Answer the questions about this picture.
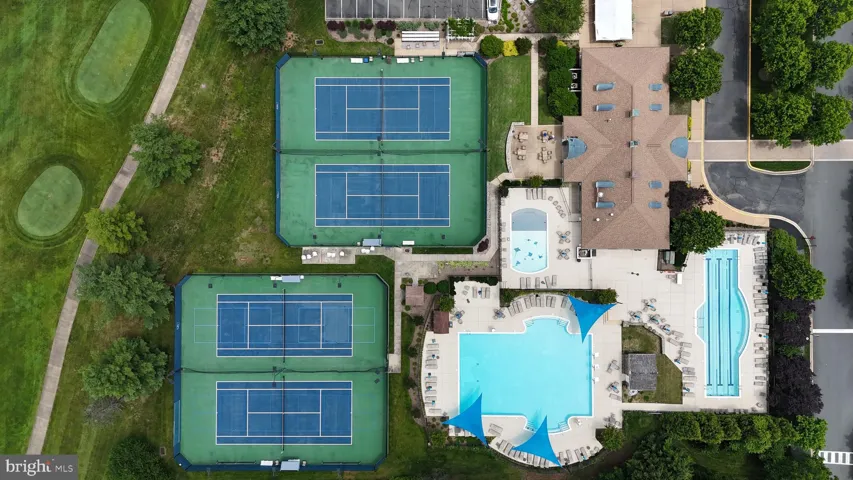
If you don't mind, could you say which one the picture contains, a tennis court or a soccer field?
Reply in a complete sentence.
It is a tennis court that can be seen here.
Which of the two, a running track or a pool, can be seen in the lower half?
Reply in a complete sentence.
The feature located in the lower half is a pool.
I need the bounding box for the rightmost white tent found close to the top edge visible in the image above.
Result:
[591,0,632,45]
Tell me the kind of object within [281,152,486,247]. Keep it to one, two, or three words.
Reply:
tennis court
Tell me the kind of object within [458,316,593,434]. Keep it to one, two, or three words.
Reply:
swimming pool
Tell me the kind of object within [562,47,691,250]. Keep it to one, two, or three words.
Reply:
building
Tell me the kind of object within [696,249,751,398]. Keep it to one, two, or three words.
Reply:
swimming pool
